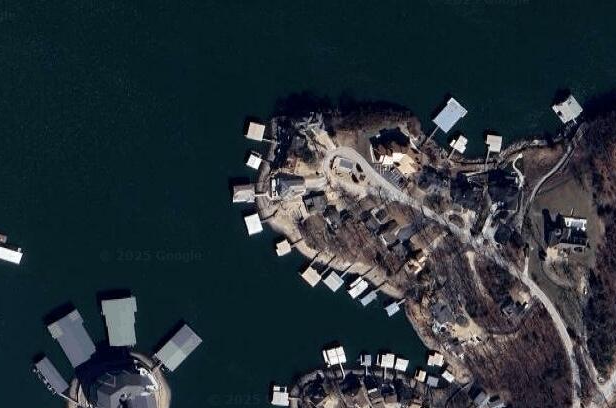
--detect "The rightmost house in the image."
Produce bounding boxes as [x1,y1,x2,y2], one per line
[551,224,587,251]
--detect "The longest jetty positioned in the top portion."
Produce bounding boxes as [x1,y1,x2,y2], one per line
[426,98,471,143]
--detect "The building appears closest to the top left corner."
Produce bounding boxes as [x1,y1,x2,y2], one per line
[276,173,309,201]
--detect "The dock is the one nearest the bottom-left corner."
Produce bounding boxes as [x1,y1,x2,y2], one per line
[36,356,78,402]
